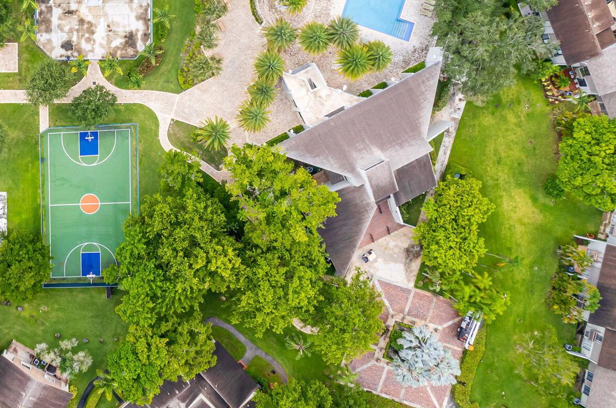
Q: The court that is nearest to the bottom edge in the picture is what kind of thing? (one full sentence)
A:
What you see as the court that is nearest to the bottom edge is a basketball court.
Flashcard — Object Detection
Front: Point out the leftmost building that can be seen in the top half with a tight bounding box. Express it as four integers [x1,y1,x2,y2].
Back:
[272,48,452,269]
